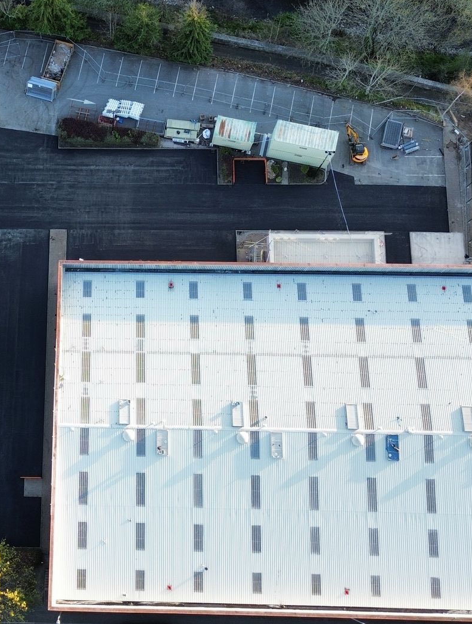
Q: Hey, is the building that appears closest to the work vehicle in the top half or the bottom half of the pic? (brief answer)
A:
top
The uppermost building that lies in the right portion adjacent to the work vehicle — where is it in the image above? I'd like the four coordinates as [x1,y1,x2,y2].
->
[267,119,339,166]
